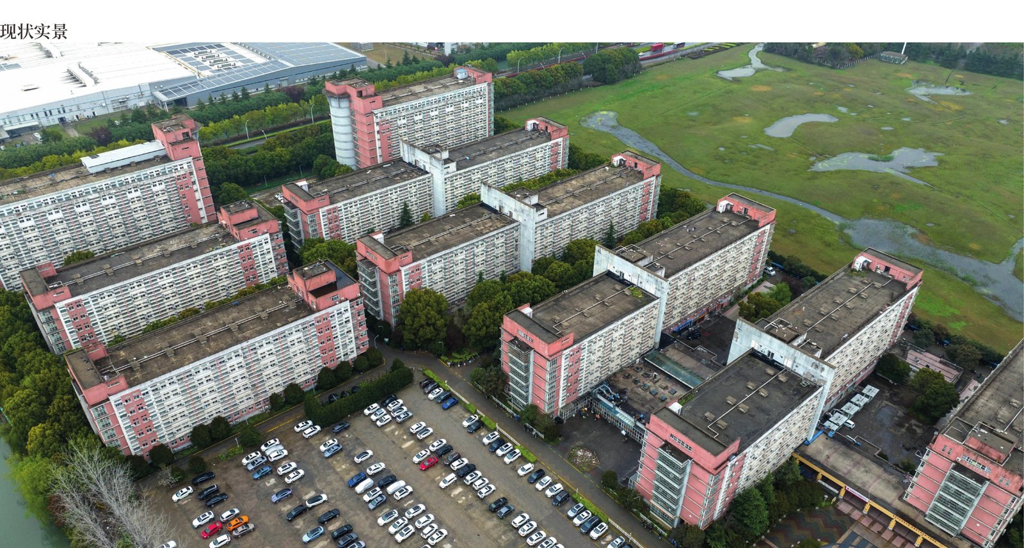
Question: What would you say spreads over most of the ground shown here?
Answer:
buildings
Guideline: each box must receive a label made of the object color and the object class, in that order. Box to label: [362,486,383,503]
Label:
white car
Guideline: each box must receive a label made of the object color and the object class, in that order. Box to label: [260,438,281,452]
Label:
white car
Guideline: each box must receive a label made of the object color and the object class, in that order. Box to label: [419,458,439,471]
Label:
red vehicle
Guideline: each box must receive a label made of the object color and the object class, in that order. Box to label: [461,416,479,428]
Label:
white vehicle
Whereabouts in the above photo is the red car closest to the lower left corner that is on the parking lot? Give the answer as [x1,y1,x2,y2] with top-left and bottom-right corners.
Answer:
[200,522,224,539]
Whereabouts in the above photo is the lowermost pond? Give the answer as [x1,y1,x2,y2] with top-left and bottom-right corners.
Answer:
[809,147,943,187]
